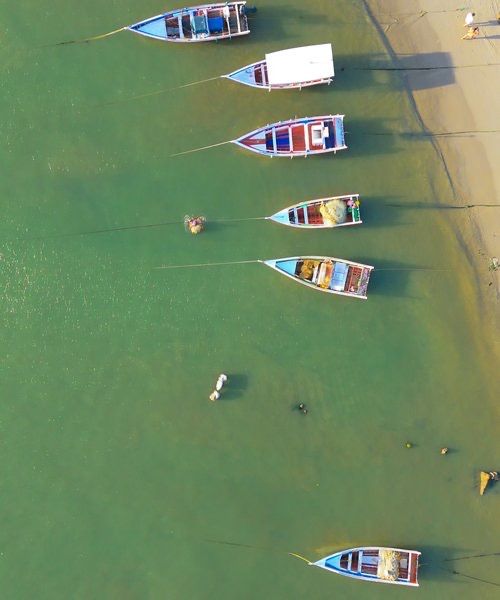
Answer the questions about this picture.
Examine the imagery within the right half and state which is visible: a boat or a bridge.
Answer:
boat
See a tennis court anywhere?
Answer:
No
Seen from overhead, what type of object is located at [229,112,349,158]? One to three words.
boat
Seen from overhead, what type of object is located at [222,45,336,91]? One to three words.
boat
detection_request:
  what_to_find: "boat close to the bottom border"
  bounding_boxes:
[308,550,422,585]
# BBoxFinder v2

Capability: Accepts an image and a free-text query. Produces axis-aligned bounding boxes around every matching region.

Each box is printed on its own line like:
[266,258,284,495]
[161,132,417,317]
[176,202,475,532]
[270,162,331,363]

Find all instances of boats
[260,257,375,298]
[222,45,336,91]
[308,550,422,585]
[125,1,267,39]
[229,112,349,158]
[264,195,363,228]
